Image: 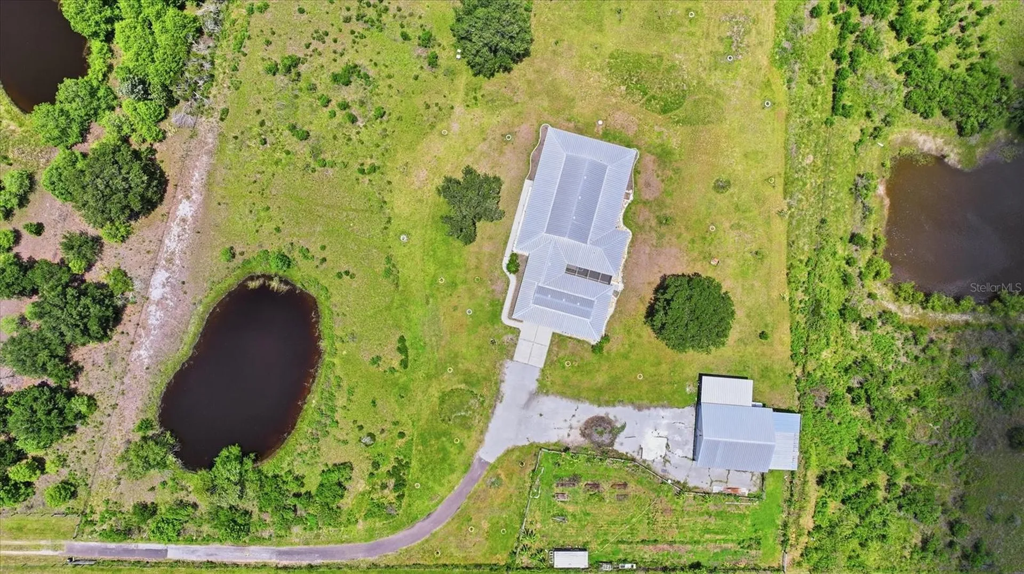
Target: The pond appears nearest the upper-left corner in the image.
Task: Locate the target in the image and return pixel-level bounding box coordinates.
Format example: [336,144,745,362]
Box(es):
[0,0,91,113]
